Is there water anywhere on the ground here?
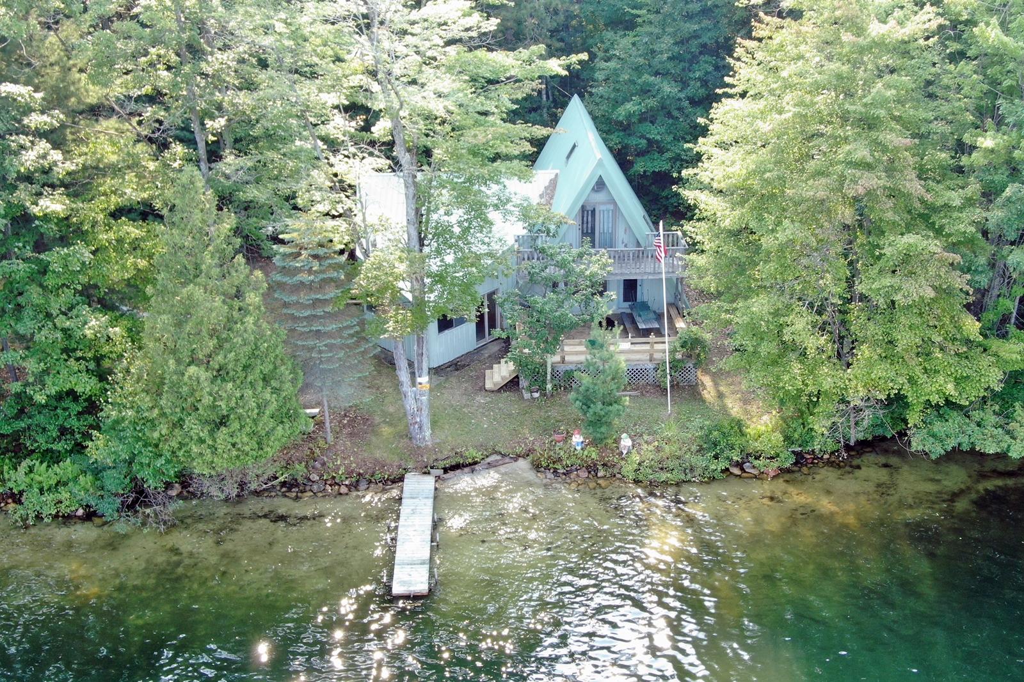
Yes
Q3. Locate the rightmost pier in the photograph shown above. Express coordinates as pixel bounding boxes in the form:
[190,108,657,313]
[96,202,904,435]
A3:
[389,475,440,600]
